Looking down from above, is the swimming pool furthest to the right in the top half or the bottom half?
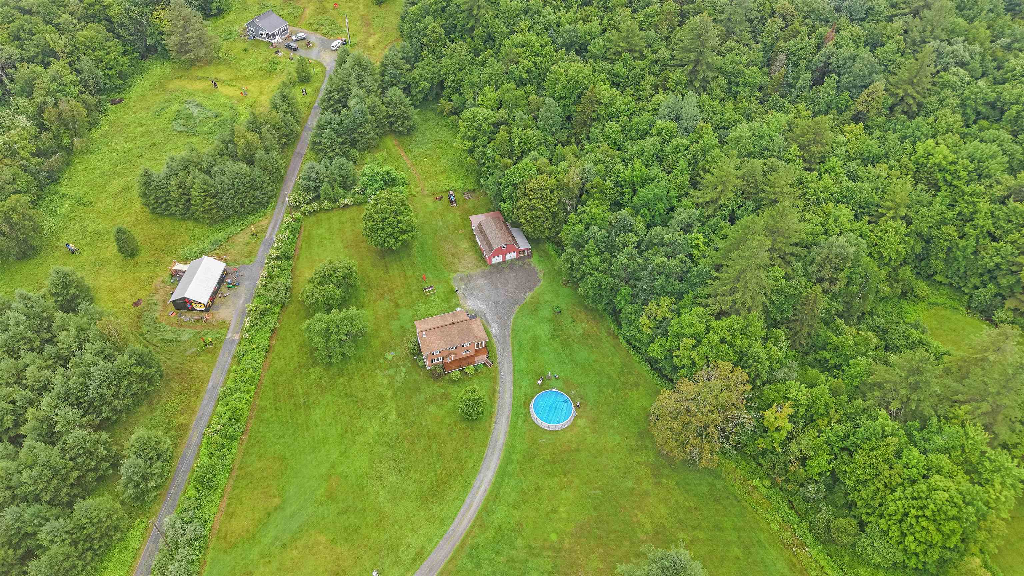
bottom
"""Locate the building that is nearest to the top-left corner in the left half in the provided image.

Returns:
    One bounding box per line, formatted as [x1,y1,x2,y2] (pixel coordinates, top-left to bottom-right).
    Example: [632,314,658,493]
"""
[245,10,289,43]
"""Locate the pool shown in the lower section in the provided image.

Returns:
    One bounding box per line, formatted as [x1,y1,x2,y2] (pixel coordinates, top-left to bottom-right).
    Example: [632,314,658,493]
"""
[533,389,574,428]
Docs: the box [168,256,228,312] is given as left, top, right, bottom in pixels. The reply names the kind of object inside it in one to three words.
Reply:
building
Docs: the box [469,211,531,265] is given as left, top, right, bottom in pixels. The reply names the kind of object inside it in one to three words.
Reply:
barn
